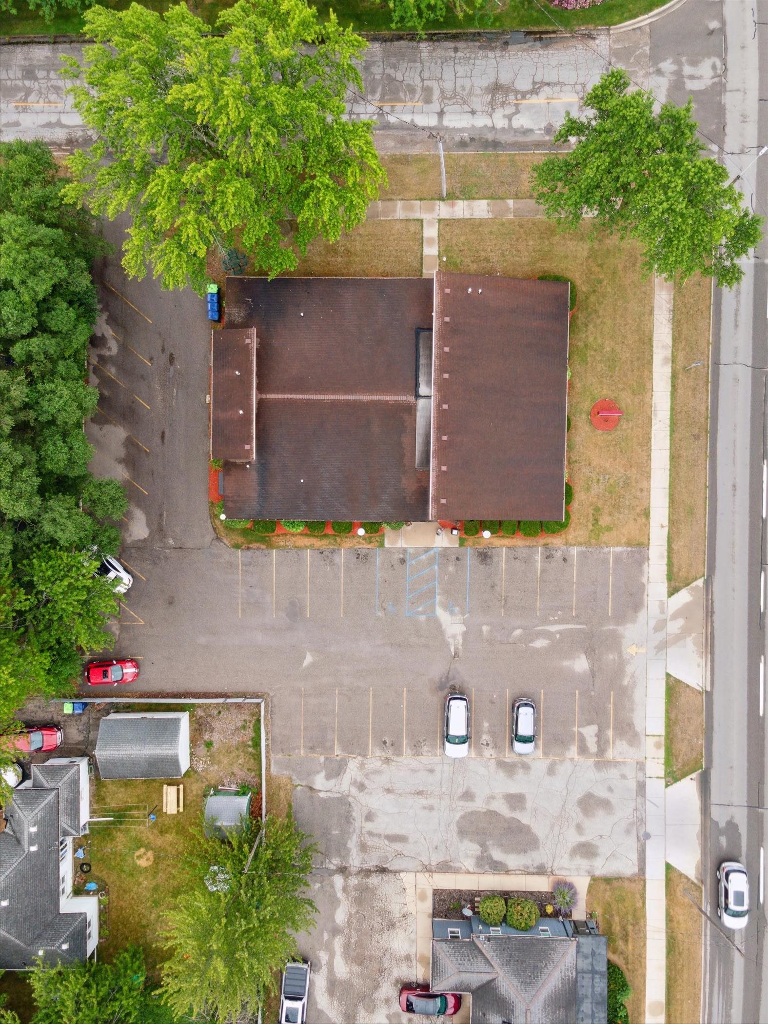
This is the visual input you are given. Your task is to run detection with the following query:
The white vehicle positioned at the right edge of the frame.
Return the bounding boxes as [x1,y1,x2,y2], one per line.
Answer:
[717,864,751,929]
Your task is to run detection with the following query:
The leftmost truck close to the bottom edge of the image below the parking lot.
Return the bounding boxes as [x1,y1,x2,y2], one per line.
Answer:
[275,961,309,1024]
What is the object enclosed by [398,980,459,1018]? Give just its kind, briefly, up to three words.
car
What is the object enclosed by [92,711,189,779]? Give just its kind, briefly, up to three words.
building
